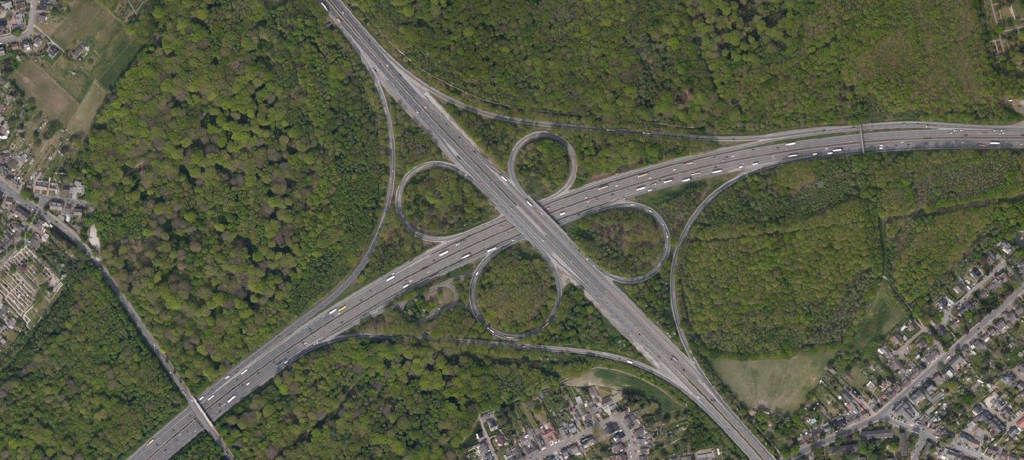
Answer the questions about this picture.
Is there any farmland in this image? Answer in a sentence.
No, farmland can't be seen anywhere here.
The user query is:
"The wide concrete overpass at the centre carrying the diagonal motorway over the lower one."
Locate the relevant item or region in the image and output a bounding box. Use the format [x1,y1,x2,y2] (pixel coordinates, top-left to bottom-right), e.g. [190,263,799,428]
[511,199,560,249]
